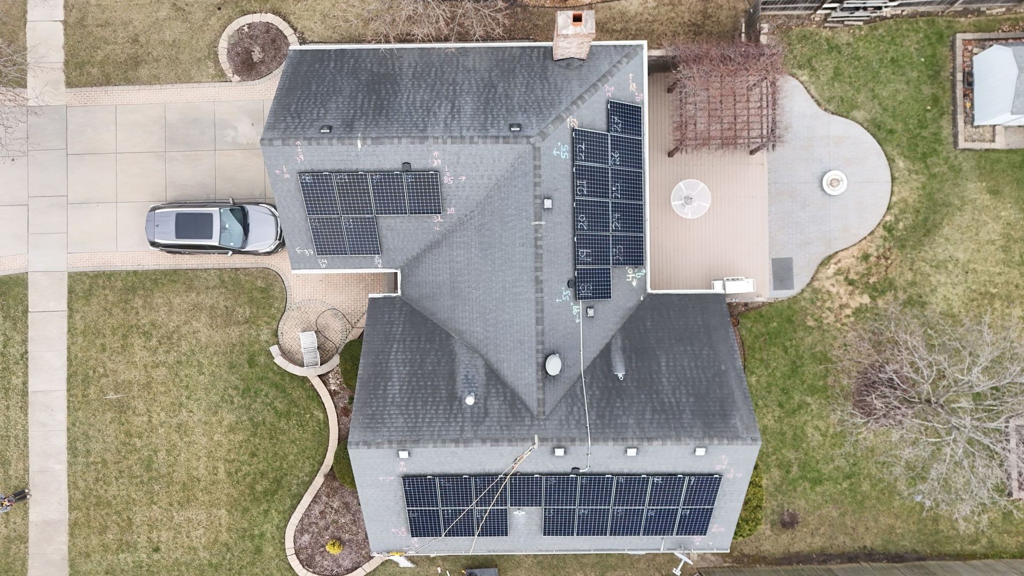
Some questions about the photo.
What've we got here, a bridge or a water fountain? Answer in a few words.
water fountain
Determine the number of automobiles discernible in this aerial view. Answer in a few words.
1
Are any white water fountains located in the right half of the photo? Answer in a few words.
Yes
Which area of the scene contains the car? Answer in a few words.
left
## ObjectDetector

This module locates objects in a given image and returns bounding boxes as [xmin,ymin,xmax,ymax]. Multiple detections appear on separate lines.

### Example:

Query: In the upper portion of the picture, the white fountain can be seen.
[822,170,848,195]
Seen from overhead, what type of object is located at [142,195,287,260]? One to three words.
car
